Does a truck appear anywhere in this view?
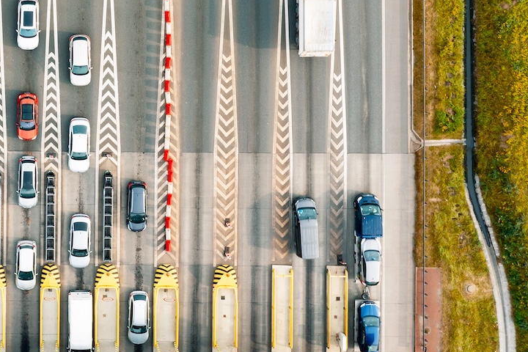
Yes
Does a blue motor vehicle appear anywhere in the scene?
Yes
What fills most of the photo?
paved ground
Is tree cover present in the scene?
No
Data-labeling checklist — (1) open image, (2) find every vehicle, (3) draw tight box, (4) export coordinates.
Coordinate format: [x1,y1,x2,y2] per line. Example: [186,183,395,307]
[68,34,90,86]
[356,300,385,352]
[15,92,38,140]
[66,116,90,172]
[290,0,333,57]
[68,212,92,267]
[292,196,323,261]
[354,194,385,290]
[126,289,149,345]
[15,156,39,208]
[125,180,148,232]
[358,242,386,287]
[14,240,37,290]
[15,0,39,49]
